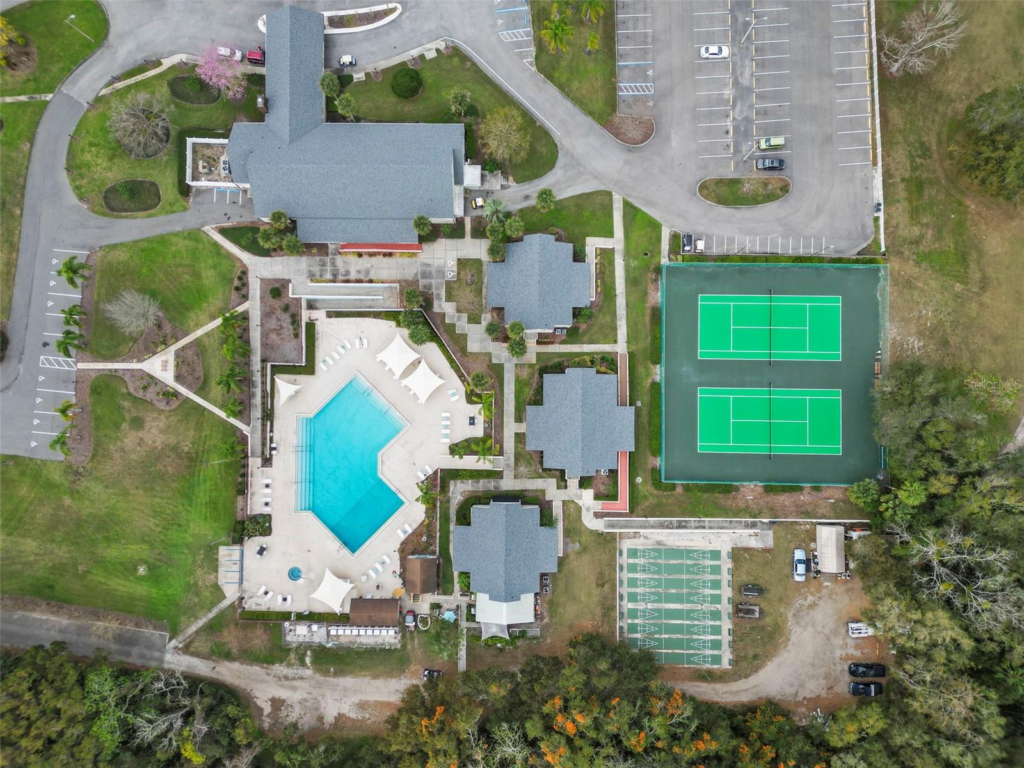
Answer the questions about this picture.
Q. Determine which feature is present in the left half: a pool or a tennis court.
pool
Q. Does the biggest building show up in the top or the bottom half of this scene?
top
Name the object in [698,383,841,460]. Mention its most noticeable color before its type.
green tennis court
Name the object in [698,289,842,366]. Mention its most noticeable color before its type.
green tennis court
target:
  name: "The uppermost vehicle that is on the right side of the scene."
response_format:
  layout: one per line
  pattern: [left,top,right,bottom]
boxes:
[701,42,730,57]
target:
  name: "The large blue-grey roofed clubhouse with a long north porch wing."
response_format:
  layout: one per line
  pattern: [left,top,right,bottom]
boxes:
[229,6,507,253]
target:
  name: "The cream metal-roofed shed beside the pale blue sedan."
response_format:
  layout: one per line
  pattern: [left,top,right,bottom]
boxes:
[811,524,845,582]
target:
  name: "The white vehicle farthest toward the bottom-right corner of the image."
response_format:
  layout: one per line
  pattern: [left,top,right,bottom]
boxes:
[849,623,886,639]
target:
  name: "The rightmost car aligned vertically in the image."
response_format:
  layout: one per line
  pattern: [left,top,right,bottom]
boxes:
[794,551,808,581]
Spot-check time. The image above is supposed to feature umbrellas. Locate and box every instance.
[394,586,404,598]
[443,609,456,622]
